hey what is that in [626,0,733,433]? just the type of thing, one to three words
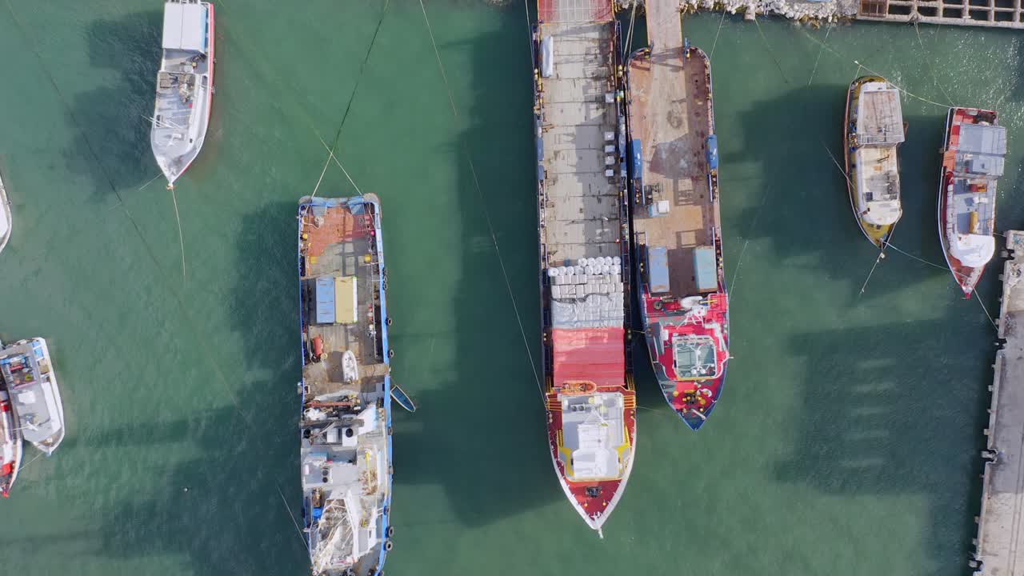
ship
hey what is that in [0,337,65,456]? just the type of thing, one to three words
boat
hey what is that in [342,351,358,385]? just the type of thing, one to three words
boat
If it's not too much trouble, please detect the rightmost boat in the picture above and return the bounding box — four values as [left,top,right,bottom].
[934,108,1007,298]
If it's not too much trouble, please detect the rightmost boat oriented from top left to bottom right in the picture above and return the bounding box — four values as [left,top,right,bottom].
[391,385,416,413]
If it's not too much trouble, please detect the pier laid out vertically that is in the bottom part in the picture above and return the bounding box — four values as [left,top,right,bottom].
[963,230,1024,576]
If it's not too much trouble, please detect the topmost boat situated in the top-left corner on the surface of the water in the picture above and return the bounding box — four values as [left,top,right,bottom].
[141,0,219,190]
